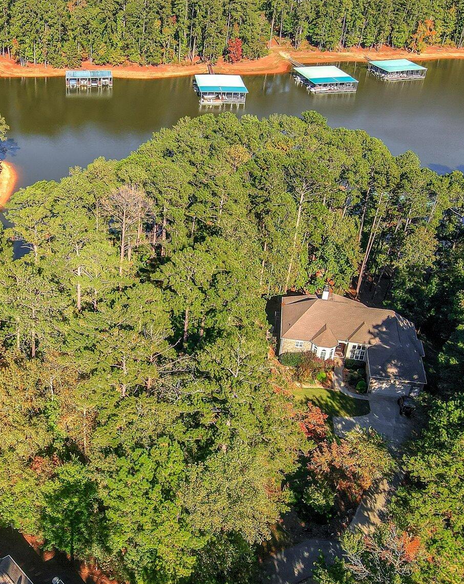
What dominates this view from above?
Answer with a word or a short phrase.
trees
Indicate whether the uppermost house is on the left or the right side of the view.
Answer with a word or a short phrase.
right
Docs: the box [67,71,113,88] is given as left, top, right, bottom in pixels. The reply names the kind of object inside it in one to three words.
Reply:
pier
